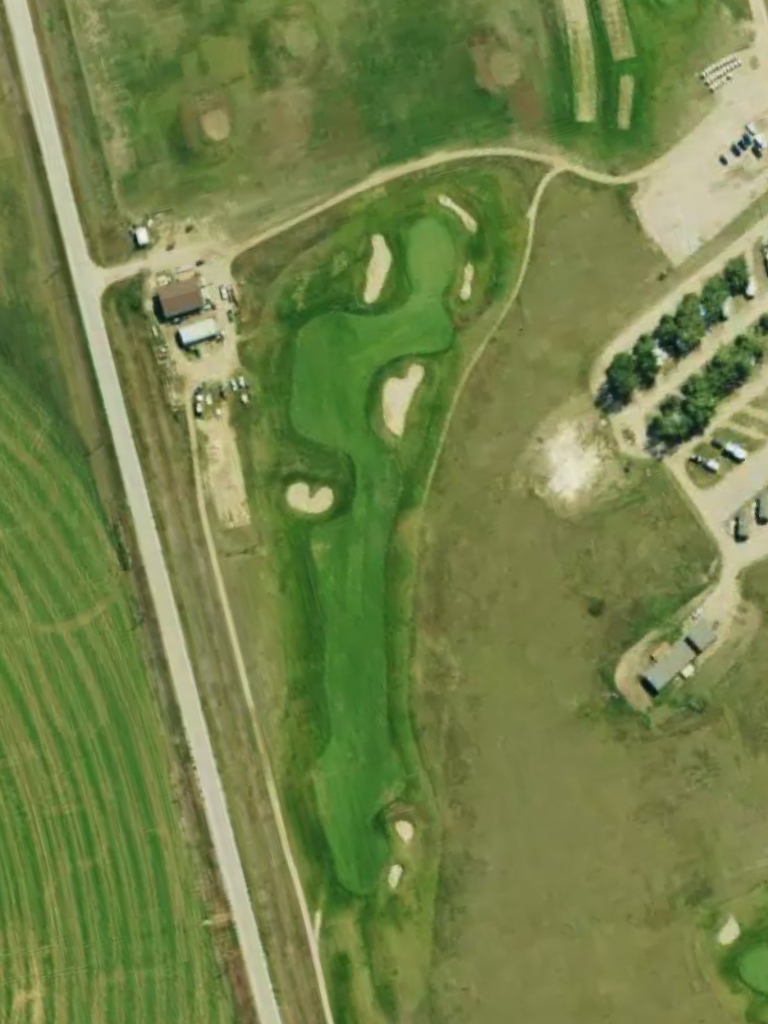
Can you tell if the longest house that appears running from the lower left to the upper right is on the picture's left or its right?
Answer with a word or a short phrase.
right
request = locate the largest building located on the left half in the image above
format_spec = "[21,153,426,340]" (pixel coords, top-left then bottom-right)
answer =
[156,276,204,316]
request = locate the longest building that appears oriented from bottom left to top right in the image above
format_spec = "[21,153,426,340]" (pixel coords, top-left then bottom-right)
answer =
[642,622,718,692]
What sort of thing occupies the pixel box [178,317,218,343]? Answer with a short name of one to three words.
shed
